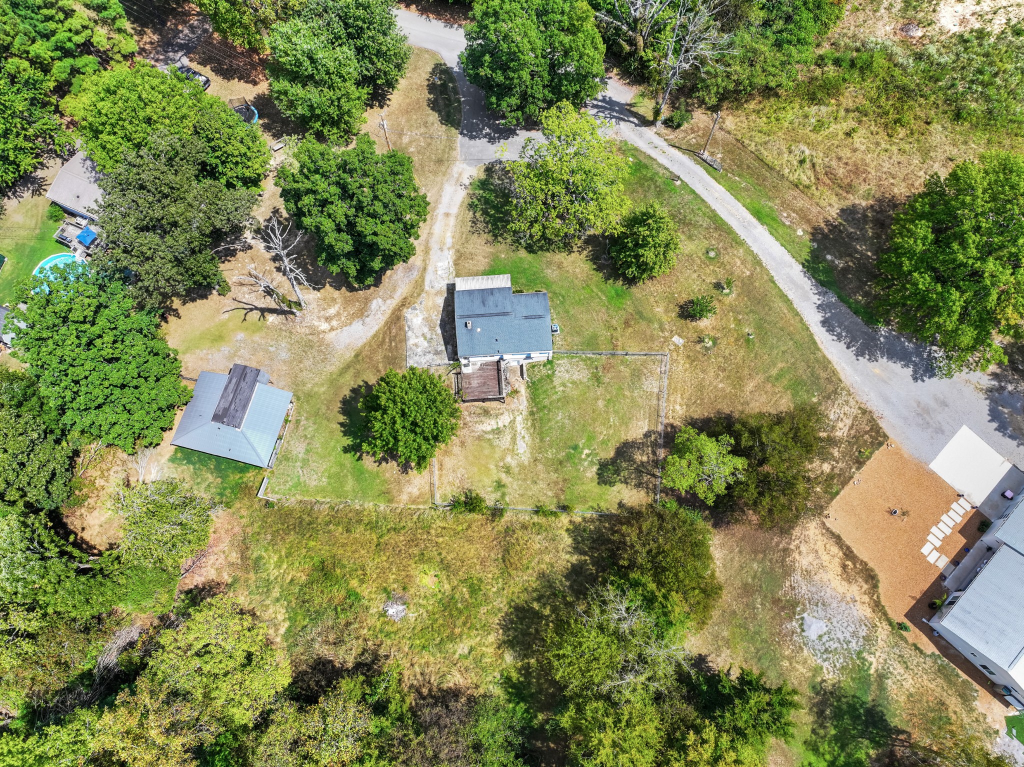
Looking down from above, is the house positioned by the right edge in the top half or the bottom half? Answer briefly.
bottom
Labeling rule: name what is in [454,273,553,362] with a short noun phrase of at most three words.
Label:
house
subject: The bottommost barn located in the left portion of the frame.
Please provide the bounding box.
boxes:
[171,362,300,468]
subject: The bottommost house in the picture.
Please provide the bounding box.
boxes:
[920,489,1024,707]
